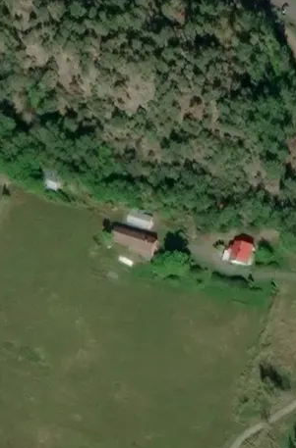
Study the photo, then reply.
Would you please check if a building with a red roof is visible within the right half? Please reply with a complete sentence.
Yes, you'll find a building with a red roof within the right half.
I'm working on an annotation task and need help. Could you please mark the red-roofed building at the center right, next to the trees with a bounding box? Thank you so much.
[225,232,256,263]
